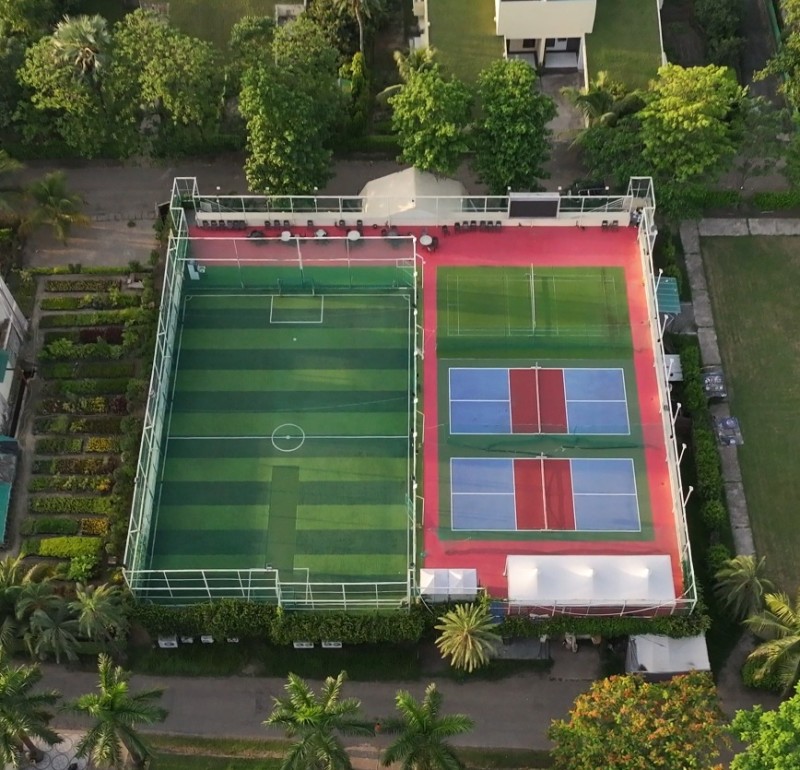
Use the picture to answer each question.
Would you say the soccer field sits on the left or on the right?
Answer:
left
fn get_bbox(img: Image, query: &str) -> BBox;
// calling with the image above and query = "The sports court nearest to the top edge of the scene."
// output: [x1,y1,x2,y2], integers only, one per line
[436,266,635,358]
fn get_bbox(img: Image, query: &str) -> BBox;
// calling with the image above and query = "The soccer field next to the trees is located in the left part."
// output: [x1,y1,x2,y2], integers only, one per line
[134,266,412,615]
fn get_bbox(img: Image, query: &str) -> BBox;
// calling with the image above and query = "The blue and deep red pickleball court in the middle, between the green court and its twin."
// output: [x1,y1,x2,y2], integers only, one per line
[449,369,630,433]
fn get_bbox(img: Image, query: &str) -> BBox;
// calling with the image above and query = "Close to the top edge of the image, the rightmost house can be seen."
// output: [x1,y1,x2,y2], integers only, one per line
[495,0,595,70]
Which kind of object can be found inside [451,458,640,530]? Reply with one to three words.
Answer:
sports court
